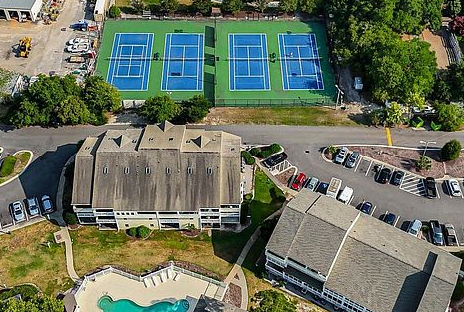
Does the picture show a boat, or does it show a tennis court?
tennis court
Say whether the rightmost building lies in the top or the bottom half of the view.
bottom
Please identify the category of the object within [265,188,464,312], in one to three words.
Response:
building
